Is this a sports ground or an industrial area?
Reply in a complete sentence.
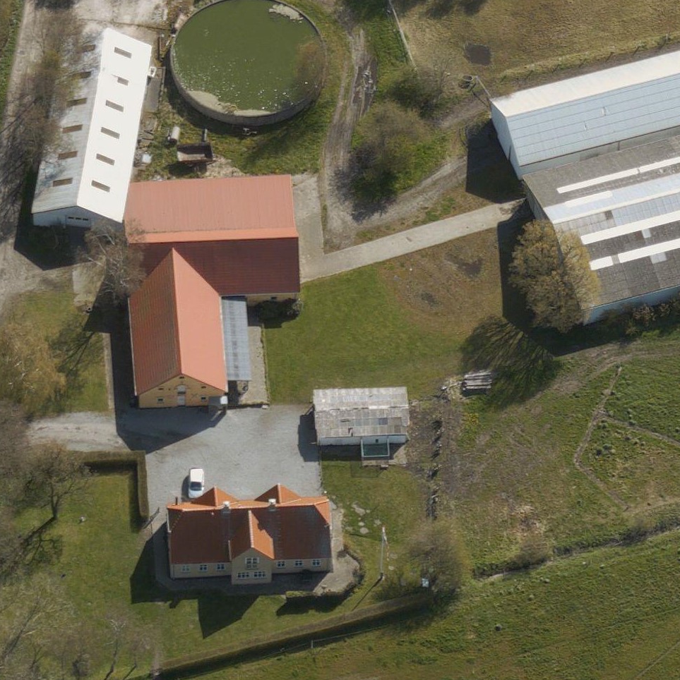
What you see here is an industrial area.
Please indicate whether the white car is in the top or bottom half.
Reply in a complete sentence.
The white car is in the bottom half of the image.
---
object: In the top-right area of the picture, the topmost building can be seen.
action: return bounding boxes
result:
[489,52,680,181]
